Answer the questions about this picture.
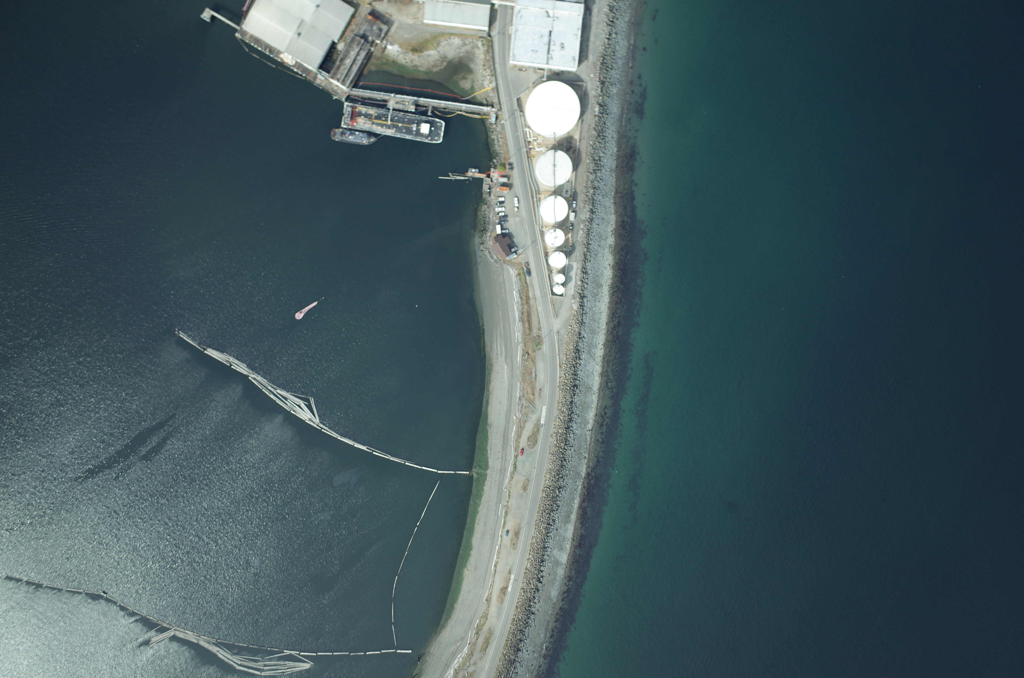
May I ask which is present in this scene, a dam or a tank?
tank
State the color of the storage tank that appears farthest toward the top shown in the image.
white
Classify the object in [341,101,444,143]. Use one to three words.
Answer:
ship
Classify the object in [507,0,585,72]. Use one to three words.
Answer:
building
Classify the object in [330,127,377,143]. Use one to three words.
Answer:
boat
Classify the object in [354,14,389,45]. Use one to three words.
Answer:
building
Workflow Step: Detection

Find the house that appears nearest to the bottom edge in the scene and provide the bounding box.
[491,234,513,261]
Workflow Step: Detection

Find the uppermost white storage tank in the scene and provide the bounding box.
[521,81,581,139]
